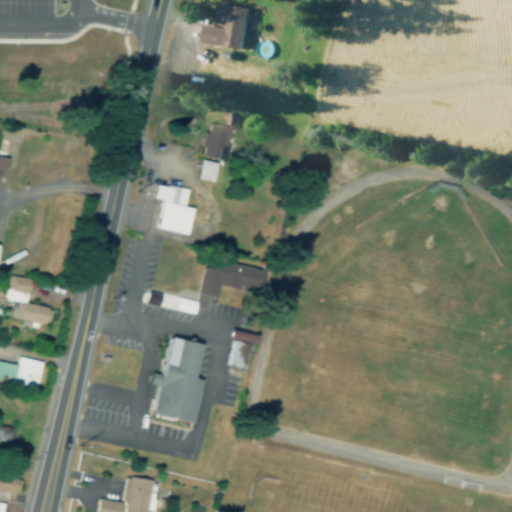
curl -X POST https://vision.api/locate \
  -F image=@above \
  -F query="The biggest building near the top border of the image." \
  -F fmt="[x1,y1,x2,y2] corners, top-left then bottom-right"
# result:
[199,8,248,49]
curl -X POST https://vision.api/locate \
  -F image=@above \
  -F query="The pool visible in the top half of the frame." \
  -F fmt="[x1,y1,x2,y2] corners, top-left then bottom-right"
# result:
[258,36,277,59]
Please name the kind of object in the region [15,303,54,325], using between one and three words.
house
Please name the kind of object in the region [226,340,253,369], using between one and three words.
shed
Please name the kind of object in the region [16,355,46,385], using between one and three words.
building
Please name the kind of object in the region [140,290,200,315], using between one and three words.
shed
